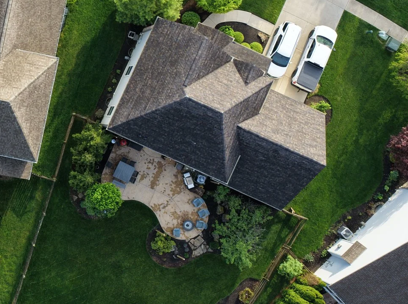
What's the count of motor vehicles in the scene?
2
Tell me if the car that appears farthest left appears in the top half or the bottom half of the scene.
top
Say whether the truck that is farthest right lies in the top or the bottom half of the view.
top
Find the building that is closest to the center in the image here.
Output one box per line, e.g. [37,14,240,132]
[103,17,327,212]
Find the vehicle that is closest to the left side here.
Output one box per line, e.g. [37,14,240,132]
[267,18,306,80]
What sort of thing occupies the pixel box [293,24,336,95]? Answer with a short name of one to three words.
truck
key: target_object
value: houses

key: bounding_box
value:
[309,187,408,304]
[0,0,67,181]
[103,17,327,212]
